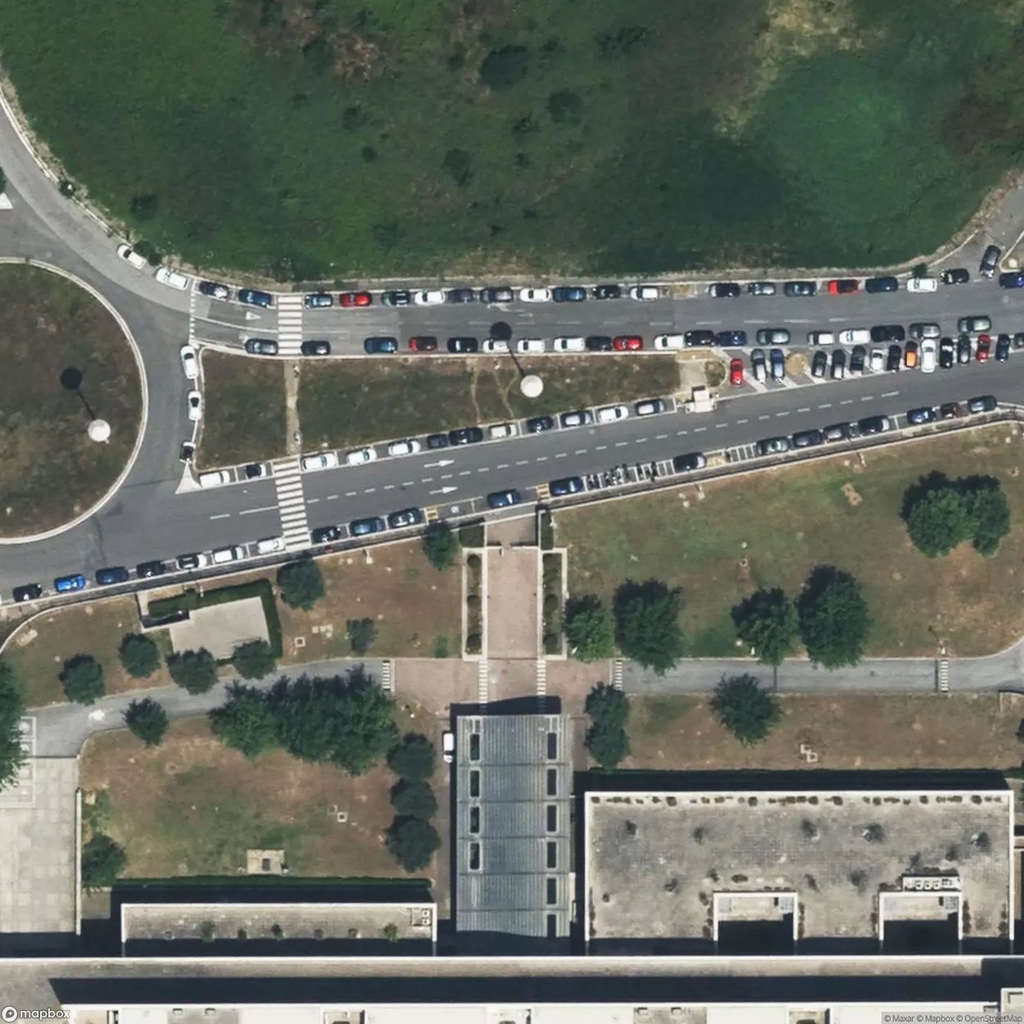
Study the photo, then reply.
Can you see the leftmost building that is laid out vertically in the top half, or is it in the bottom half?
bottom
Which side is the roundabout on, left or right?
left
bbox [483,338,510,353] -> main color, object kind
white car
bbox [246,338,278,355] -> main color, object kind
gray car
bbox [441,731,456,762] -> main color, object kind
white vehicle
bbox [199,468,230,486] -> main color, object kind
white vehicle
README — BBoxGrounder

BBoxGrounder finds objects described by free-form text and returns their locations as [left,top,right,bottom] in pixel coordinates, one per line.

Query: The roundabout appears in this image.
[0,260,144,542]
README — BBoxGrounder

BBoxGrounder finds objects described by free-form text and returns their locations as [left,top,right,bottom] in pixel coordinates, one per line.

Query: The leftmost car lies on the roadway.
[13,583,42,600]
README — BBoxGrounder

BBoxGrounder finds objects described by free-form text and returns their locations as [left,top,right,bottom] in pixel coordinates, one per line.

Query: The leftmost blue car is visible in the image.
[53,574,86,592]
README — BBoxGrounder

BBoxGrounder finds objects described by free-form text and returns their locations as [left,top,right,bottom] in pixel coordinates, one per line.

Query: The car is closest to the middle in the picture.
[487,490,521,508]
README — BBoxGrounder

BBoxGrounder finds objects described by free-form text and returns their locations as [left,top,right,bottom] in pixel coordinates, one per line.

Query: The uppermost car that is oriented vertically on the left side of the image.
[181,346,198,379]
